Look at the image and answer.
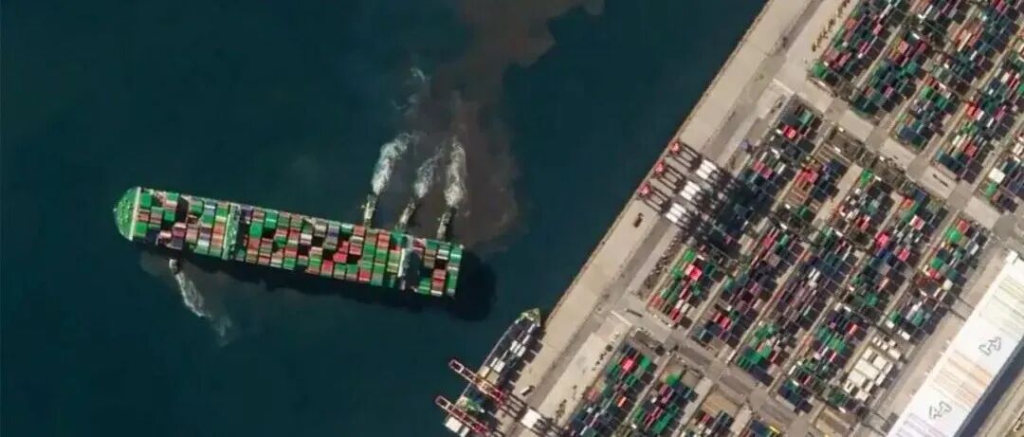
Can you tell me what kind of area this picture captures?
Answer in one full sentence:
The picture captures a port.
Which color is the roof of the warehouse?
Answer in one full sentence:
The color of the roof on the warehouse is white.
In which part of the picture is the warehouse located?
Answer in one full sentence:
The warehouse is located in the bottom right region of the scene.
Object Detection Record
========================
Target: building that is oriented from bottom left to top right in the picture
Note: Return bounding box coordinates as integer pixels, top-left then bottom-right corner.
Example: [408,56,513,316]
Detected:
[886,246,1024,437]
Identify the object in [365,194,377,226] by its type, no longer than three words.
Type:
boat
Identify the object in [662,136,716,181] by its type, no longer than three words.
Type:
container crane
